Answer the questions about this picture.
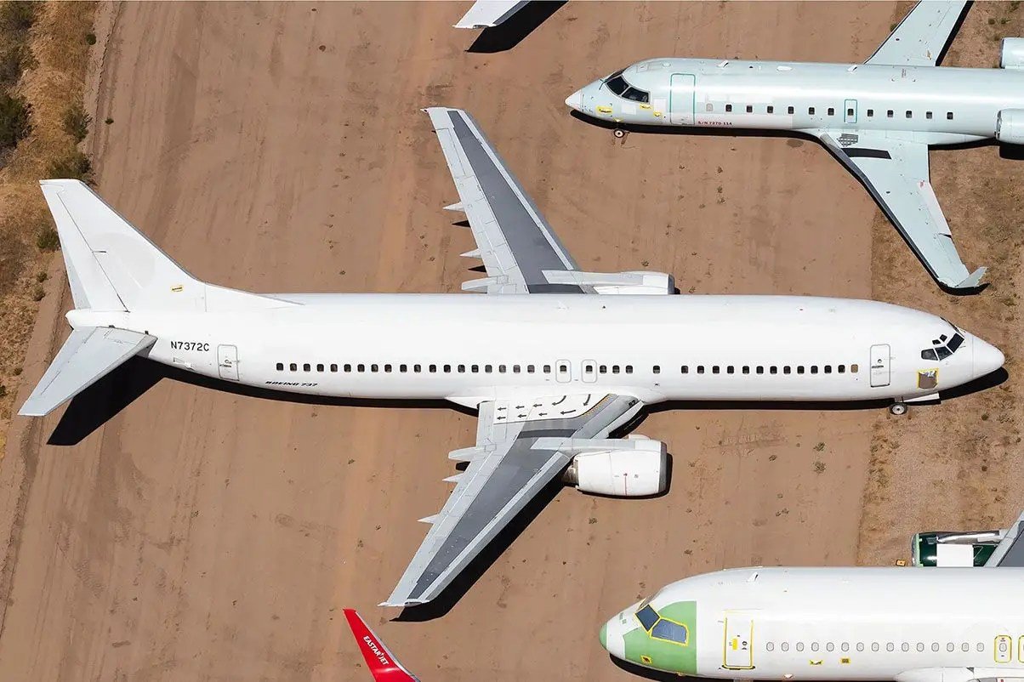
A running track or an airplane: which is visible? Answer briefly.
airplane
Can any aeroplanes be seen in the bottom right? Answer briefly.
Yes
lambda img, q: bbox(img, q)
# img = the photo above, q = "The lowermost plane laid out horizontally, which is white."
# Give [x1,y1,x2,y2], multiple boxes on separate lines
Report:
[599,515,1024,682]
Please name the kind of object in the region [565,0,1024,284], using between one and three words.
airplane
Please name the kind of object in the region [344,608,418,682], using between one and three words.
airplane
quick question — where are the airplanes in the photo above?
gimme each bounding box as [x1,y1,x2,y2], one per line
[599,515,1024,682]
[19,108,1005,605]
[565,0,1024,284]
[344,608,418,682]
[453,0,526,28]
